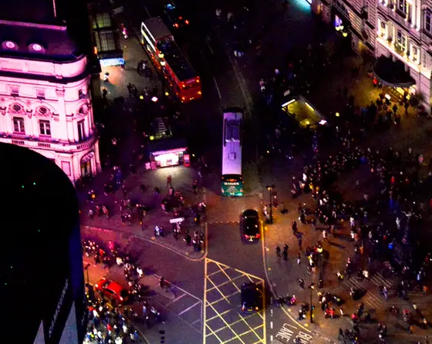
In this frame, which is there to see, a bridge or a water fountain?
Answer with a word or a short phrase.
water fountain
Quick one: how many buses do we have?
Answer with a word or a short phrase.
2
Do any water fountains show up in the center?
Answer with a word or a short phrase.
No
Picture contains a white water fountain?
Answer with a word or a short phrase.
No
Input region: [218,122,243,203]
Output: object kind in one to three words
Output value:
bus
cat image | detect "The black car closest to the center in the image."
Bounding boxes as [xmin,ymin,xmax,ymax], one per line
[242,212,261,241]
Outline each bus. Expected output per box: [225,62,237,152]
[139,34,202,112]
[218,122,243,203]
